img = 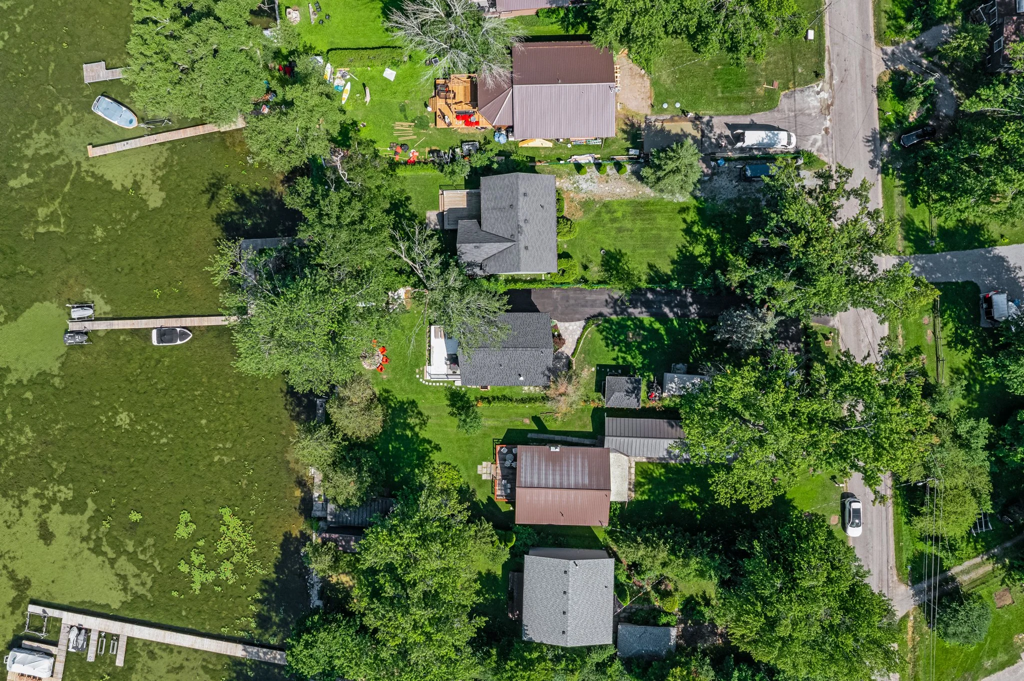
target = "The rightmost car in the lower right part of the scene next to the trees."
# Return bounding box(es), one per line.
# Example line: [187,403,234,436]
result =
[840,496,865,537]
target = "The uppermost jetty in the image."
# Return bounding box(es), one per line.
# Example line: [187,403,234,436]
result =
[83,61,146,83]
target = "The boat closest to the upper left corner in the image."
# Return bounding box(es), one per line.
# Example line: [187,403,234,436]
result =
[87,90,136,127]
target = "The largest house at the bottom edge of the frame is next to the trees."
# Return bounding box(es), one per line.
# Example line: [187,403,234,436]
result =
[521,549,615,647]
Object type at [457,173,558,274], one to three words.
house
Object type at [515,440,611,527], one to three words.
house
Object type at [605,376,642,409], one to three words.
shed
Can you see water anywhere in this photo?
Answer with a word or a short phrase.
Yes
